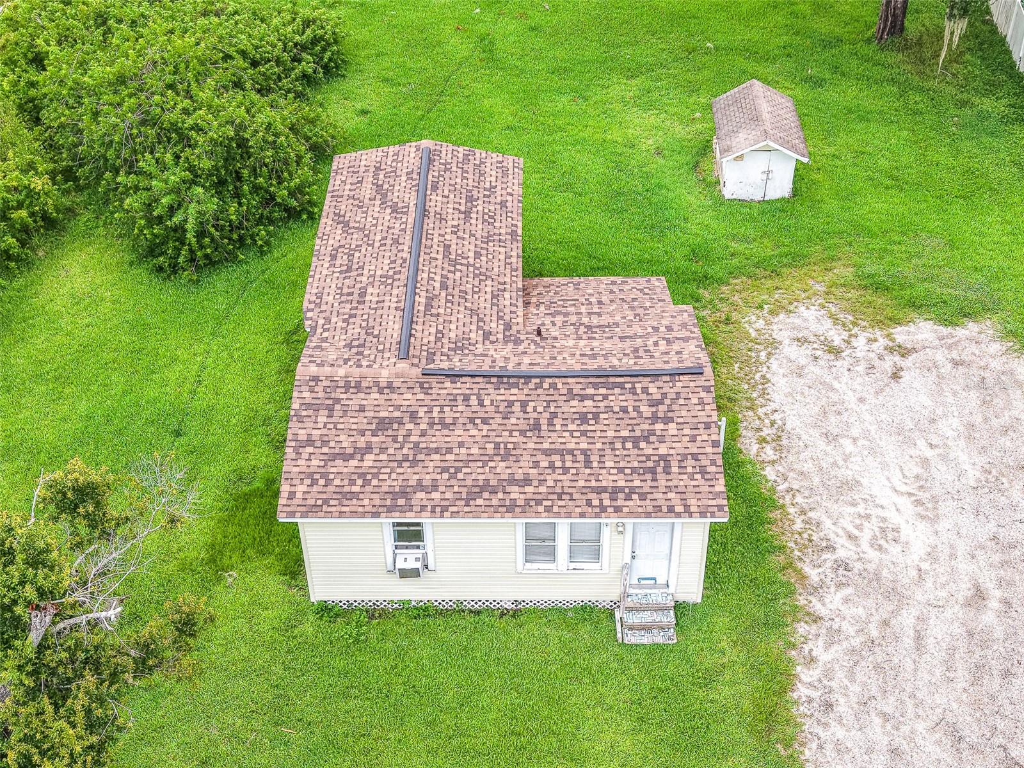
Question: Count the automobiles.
0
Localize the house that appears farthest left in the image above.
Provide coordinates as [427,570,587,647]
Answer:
[278,140,728,610]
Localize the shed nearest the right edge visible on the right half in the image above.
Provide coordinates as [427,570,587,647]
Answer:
[712,81,810,199]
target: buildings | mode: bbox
[712,81,810,199]
[278,140,728,610]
